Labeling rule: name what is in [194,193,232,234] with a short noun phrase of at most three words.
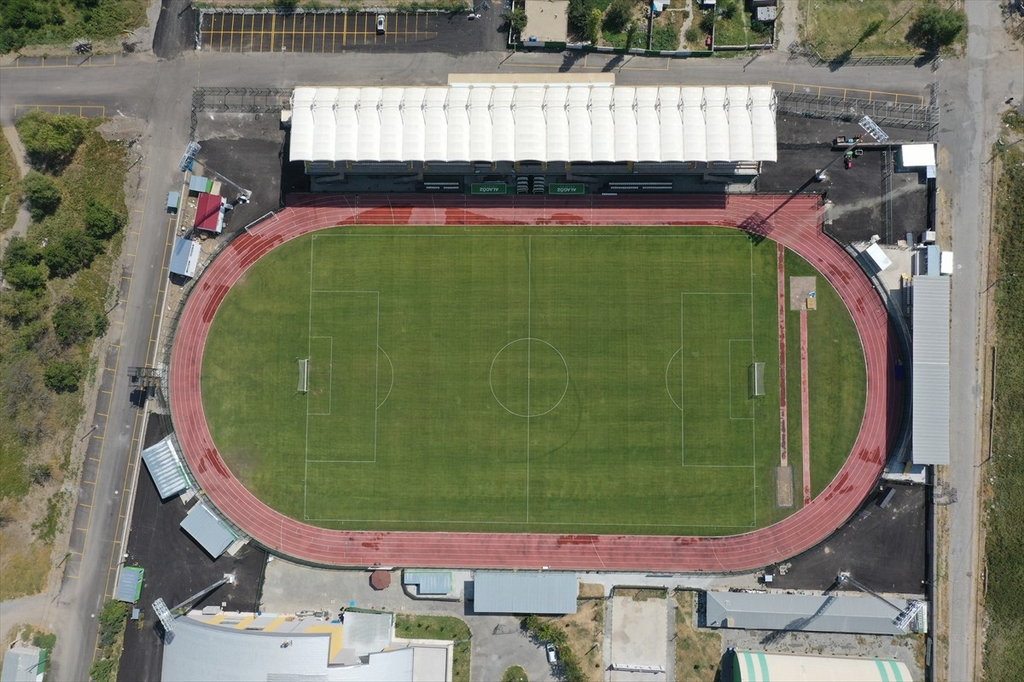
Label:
building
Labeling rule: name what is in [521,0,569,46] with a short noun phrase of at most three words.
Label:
house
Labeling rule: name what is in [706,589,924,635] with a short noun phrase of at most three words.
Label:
building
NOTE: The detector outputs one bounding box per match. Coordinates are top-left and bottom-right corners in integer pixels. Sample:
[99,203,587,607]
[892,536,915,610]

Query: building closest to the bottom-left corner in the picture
[3,631,51,682]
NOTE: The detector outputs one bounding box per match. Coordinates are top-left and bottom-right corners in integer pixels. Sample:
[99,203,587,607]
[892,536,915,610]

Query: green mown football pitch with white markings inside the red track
[202,226,867,537]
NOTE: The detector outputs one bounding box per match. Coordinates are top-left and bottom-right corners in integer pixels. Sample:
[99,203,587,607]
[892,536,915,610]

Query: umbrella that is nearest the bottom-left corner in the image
[371,569,390,589]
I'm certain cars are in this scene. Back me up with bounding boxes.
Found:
[376,14,385,31]
[547,646,558,665]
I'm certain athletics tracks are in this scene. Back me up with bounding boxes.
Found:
[168,193,900,573]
